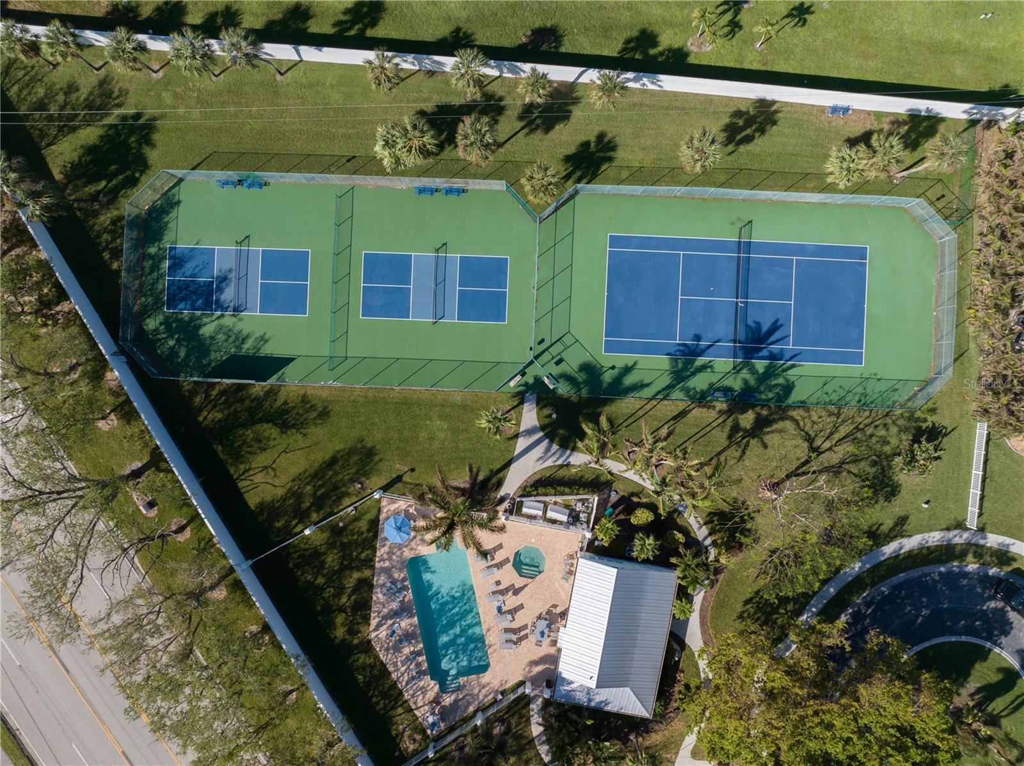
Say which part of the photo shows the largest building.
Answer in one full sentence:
The largest building sits in the bottom section of the image.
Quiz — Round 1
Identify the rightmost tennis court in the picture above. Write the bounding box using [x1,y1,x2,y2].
[532,193,936,408]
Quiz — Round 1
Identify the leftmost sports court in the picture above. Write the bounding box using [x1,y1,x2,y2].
[138,181,340,388]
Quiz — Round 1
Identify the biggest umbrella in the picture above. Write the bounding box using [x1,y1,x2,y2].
[385,516,411,543]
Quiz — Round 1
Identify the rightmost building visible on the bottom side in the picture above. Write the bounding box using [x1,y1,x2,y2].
[553,551,678,719]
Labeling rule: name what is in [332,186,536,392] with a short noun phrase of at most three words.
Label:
sports court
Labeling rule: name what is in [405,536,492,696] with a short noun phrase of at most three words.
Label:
swimming pool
